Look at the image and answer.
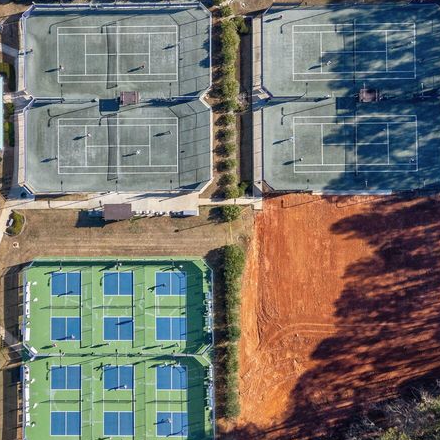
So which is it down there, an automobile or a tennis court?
tennis court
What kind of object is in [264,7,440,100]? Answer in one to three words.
tennis court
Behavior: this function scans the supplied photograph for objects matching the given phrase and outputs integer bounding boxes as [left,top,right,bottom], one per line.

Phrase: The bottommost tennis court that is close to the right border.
[264,100,440,192]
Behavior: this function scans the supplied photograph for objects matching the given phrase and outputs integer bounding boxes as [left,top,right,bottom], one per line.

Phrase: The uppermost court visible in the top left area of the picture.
[25,8,209,100]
